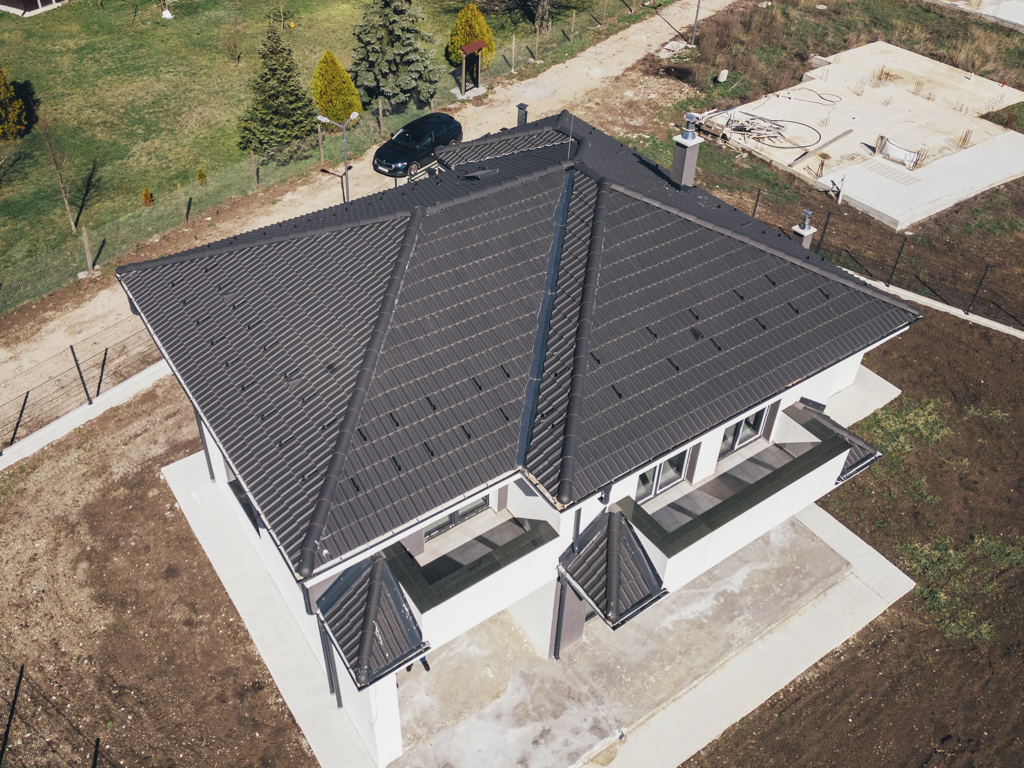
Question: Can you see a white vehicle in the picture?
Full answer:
No, the picture doesn't show any white vehicle.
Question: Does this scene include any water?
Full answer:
No, no water is visible.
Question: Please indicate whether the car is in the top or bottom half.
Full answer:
The car sits in the top half of the picture.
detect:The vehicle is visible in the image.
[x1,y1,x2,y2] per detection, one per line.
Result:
[371,108,466,179]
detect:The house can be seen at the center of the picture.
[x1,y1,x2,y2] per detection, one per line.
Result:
[112,84,924,766]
